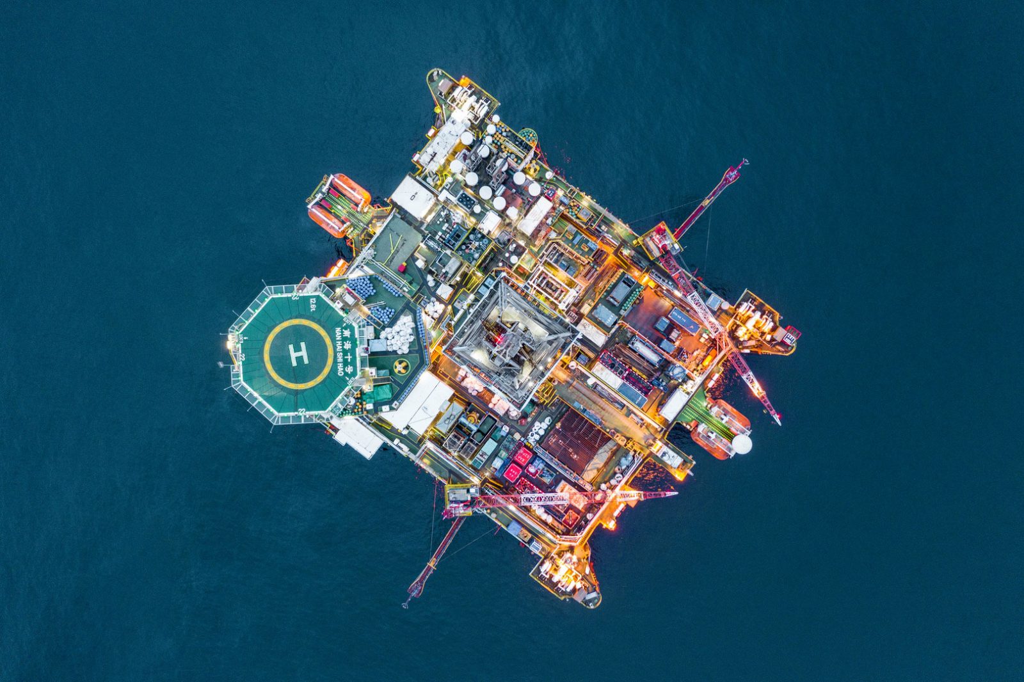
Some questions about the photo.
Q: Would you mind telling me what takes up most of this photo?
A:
water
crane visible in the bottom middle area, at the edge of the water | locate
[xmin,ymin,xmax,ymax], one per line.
[447,479,680,528]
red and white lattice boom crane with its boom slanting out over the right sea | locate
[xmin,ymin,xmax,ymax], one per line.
[637,218,782,426]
